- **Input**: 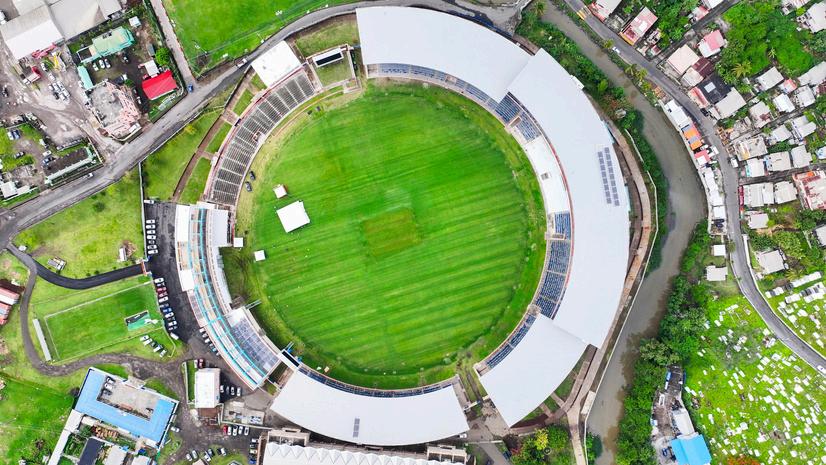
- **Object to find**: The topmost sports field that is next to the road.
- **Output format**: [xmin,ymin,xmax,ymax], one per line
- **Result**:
[164,0,343,69]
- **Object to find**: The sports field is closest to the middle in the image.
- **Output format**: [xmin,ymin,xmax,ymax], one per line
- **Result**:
[219,80,547,391]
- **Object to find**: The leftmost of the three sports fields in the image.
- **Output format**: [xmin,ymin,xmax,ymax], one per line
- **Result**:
[46,281,164,360]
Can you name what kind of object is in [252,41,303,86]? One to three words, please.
building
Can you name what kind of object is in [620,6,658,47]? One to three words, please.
house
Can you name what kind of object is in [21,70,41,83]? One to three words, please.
vehicle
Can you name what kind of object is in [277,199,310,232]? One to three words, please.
tent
